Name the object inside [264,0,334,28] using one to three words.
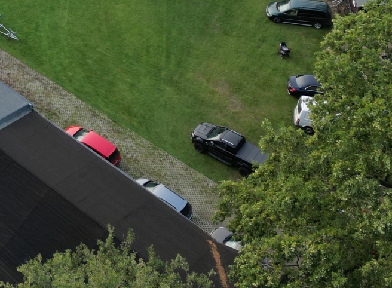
car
